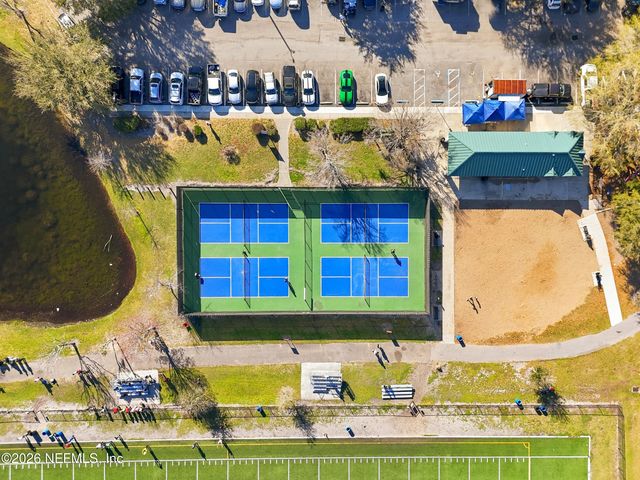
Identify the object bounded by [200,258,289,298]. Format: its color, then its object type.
blue sports court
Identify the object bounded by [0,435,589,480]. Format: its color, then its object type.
green sports field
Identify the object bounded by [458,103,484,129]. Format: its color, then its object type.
blue tent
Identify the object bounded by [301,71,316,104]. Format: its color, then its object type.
white car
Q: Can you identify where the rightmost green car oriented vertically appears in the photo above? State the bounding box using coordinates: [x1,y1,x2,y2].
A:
[339,71,354,105]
